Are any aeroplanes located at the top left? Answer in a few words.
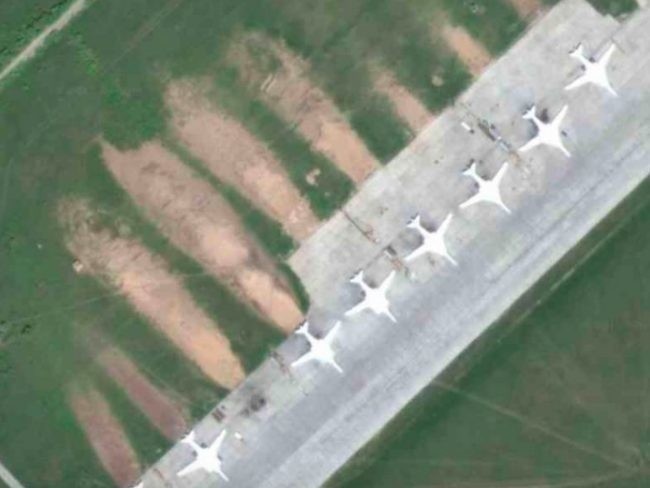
No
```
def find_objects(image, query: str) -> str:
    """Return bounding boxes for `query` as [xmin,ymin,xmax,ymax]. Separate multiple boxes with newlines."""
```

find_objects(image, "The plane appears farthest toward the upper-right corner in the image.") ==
[566,44,618,96]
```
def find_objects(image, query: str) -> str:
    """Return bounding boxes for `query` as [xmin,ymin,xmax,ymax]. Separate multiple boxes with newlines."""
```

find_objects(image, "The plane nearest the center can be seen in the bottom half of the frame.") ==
[345,270,396,322]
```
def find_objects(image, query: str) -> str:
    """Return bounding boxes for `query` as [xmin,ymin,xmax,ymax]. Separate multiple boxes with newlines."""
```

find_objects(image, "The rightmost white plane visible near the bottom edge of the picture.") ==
[176,428,228,481]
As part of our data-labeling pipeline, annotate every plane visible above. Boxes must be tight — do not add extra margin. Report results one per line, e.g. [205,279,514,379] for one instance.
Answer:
[405,213,457,265]
[290,320,342,372]
[518,103,569,155]
[345,270,396,322]
[566,44,618,96]
[176,428,228,481]
[459,160,510,213]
